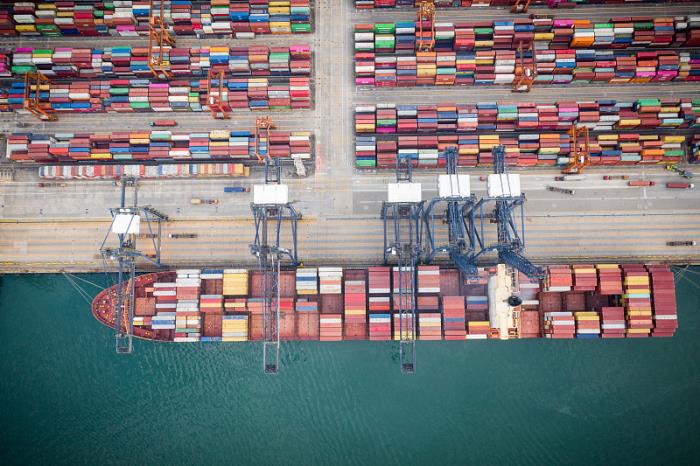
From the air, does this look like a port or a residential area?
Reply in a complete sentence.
This looks like a port.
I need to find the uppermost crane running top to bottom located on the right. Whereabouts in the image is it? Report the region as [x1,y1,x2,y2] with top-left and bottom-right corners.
[413,1,437,54]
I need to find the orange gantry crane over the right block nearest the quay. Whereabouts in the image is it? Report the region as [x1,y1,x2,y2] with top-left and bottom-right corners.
[560,125,592,174]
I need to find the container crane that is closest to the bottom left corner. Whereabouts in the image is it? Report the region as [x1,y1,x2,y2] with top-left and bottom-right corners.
[102,176,176,354]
